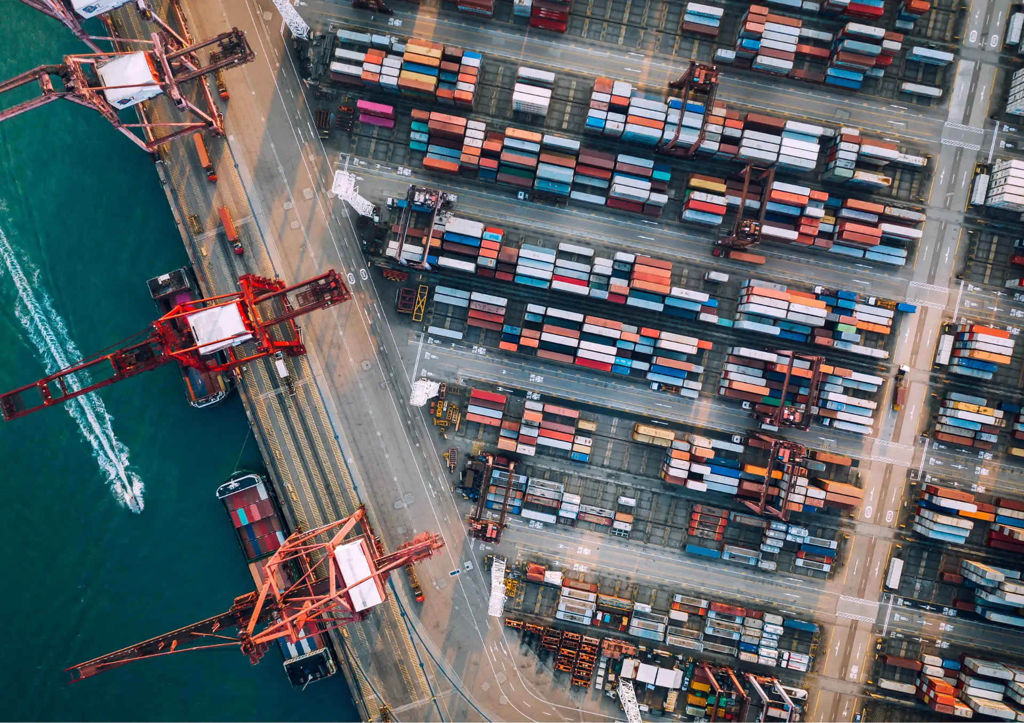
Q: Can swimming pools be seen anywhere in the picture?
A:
No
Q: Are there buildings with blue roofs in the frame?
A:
No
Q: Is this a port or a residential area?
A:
port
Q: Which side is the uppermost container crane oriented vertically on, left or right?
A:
right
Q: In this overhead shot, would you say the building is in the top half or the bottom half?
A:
bottom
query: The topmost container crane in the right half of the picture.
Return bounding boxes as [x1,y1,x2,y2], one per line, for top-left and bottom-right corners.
[667,50,719,151]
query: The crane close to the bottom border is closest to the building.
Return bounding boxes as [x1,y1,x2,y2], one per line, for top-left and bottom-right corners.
[701,667,750,723]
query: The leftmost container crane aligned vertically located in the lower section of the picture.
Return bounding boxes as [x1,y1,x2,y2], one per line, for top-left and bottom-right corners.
[466,456,521,551]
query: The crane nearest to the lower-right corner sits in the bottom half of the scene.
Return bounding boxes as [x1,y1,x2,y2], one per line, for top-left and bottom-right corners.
[740,674,797,723]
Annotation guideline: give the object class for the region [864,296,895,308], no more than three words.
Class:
vehicle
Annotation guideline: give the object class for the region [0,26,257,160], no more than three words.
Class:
container crane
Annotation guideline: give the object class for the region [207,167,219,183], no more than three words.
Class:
vehicle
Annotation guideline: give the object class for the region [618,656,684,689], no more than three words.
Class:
building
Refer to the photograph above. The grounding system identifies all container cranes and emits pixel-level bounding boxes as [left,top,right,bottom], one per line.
[711,163,778,251]
[740,674,797,723]
[0,0,192,63]
[399,180,450,270]
[701,667,750,723]
[0,269,355,424]
[735,433,806,521]
[667,50,719,151]
[751,351,825,439]
[466,456,521,551]
[0,26,257,160]
[61,499,445,685]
